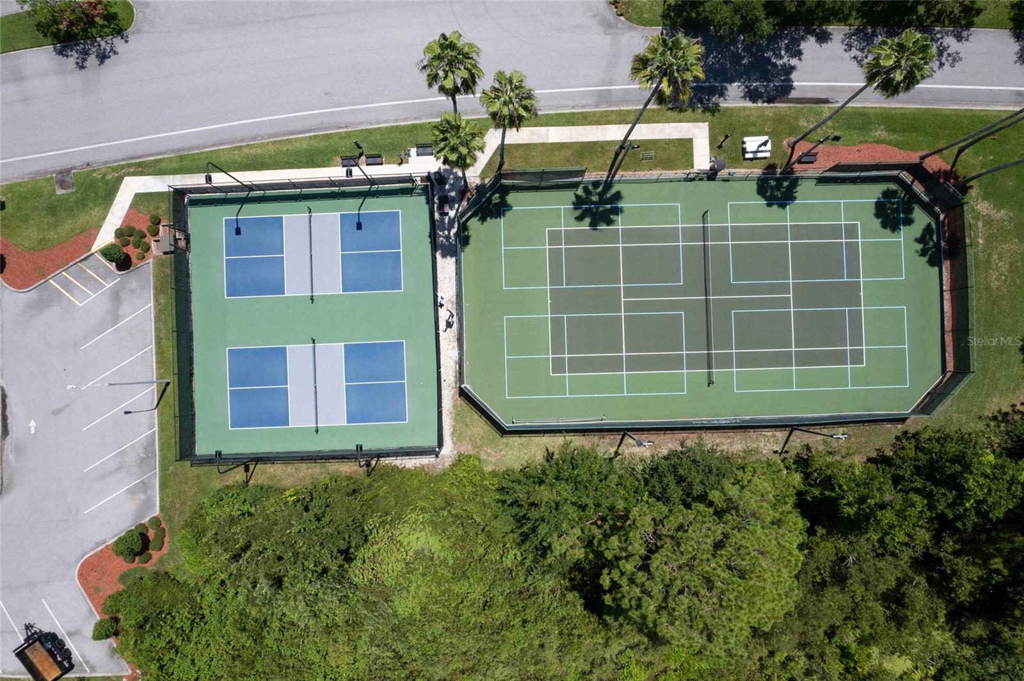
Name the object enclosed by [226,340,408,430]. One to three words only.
sports court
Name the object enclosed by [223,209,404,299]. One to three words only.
sports court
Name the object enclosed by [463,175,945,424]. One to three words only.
tennis court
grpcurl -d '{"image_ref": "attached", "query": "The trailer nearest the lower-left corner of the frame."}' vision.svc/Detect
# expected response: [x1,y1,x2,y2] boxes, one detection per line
[12,619,76,681]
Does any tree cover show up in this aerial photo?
Yes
